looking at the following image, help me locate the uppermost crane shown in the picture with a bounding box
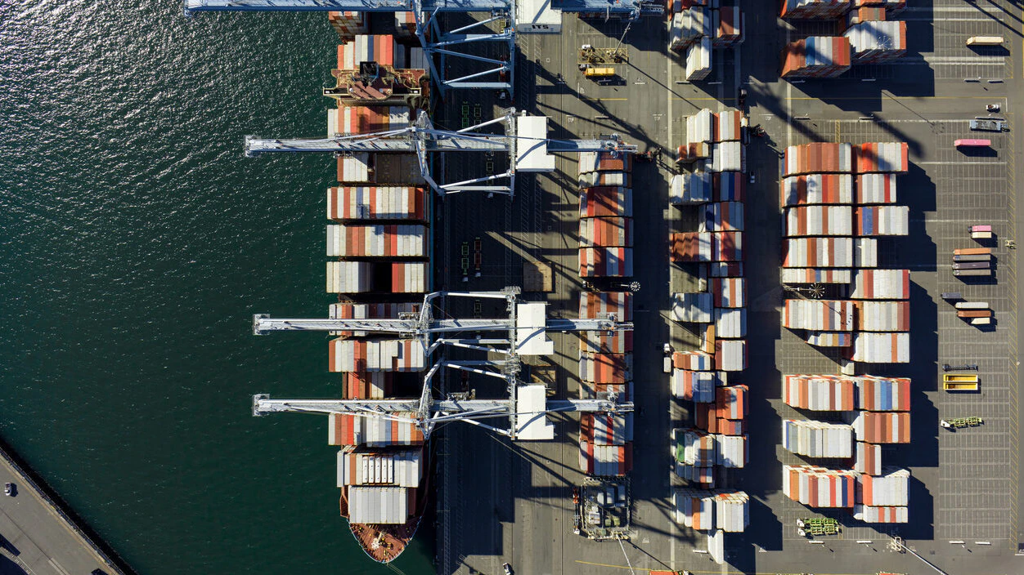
[180,0,656,108]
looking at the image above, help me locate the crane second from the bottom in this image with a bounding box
[253,283,634,356]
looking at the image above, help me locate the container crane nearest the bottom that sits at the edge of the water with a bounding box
[252,350,634,440]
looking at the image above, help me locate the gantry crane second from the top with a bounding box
[246,101,638,206]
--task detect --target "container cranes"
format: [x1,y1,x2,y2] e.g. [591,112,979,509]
[252,350,634,440]
[253,283,634,356]
[246,101,638,206]
[180,0,656,108]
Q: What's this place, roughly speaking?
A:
port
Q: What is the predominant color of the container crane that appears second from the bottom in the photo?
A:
white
